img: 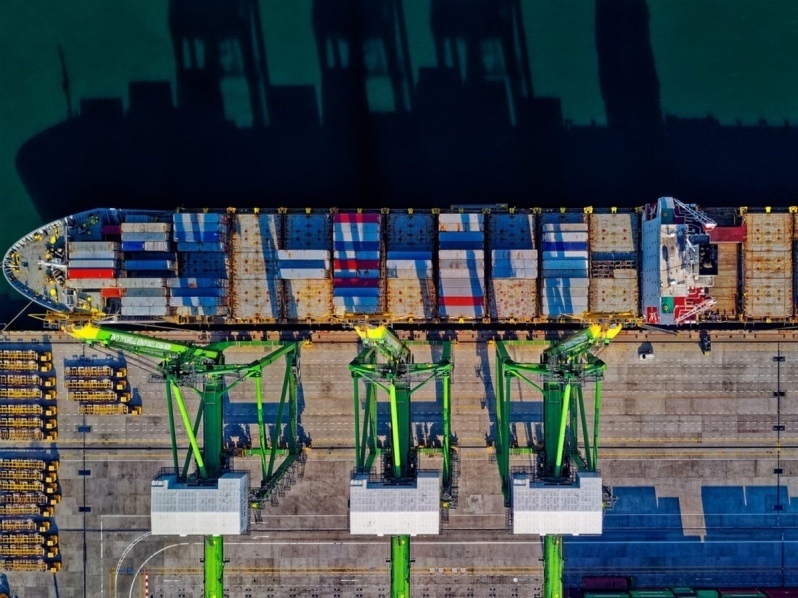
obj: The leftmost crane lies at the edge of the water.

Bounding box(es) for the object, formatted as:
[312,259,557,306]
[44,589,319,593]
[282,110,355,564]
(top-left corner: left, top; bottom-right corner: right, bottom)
[30,311,318,598]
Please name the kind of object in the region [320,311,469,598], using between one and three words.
container crane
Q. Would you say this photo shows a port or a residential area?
port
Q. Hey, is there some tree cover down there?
No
